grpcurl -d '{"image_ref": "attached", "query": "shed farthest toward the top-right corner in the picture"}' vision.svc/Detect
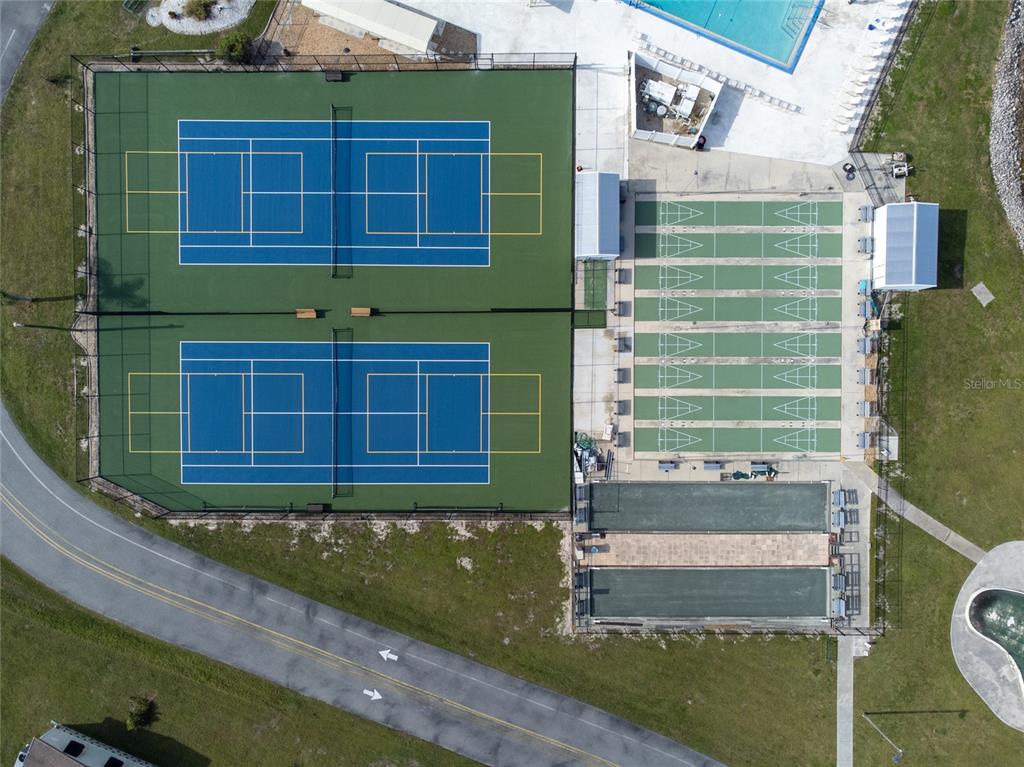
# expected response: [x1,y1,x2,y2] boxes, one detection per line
[873,200,938,288]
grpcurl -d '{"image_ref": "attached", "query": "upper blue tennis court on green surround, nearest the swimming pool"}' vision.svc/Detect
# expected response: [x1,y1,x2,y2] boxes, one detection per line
[94,69,571,313]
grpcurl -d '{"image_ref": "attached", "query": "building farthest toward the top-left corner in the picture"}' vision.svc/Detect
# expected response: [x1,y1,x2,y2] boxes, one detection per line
[298,0,438,58]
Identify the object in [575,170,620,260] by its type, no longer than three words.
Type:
shed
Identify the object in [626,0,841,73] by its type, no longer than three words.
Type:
swimming pool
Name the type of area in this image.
sports ground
